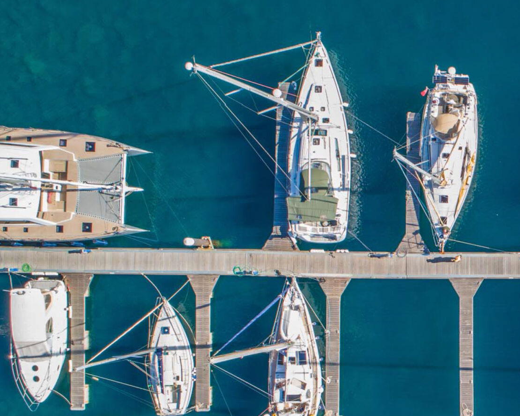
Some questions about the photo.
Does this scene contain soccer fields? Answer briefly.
No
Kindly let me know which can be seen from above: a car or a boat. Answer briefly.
boat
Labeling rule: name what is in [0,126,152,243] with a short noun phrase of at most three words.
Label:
boat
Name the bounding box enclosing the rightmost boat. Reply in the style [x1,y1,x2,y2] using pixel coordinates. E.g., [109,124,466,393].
[389,65,479,253]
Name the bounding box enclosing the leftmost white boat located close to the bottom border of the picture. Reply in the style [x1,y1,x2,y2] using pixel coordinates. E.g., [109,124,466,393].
[2,277,72,407]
